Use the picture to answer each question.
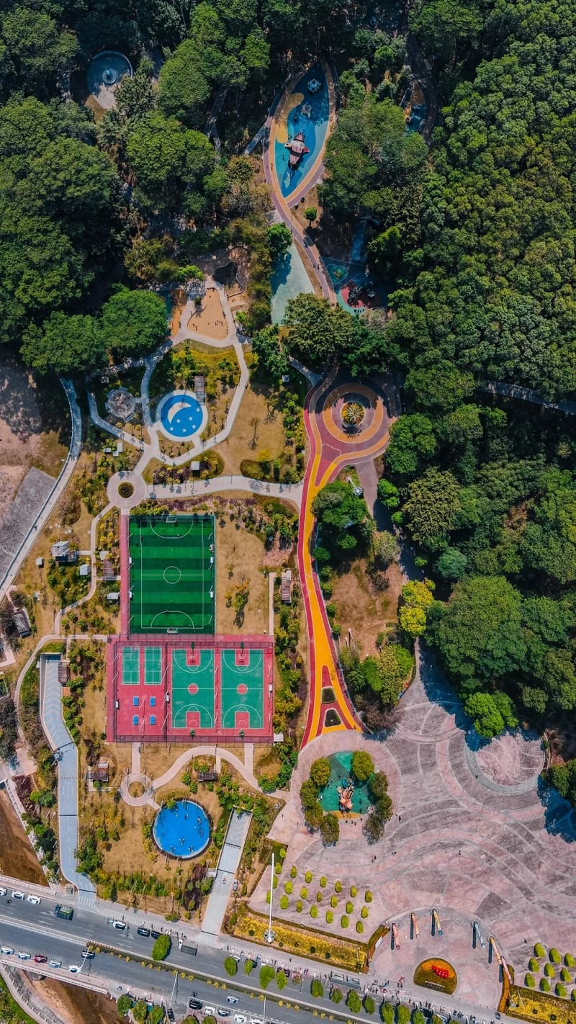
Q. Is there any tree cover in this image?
Yes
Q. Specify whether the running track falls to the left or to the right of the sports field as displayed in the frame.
on its right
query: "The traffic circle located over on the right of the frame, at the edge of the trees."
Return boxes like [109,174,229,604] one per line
[316,367,400,459]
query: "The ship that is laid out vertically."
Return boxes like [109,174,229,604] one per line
[282,117,312,185]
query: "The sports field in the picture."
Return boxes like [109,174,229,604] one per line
[127,515,216,634]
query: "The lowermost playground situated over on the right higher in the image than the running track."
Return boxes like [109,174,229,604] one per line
[322,256,390,316]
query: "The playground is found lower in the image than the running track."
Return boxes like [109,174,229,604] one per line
[313,753,380,820]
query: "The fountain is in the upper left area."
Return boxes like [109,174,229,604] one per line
[99,65,118,85]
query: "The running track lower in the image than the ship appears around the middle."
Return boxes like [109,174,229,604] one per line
[298,380,389,748]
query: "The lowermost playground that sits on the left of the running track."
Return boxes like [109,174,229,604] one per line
[156,390,207,442]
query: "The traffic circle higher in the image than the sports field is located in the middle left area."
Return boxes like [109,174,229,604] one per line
[108,472,145,509]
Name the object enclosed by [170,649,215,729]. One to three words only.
basketball court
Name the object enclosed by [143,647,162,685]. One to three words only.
sports court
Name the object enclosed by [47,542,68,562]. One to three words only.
shed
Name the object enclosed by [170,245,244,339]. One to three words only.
playground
